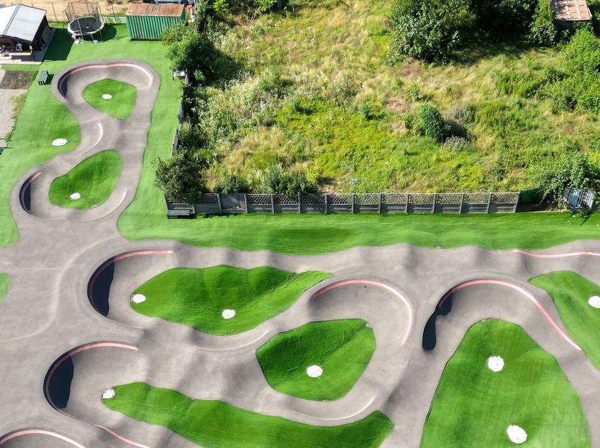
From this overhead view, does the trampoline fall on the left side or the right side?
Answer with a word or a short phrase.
left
